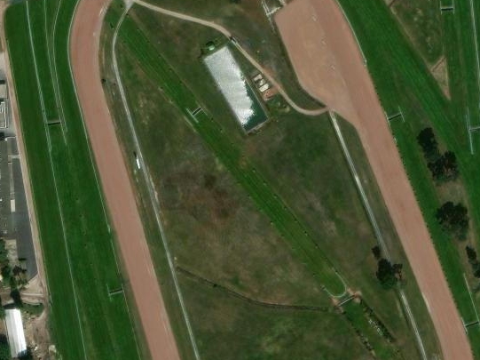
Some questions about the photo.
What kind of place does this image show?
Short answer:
sports ground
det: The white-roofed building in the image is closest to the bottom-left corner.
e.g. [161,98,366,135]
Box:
[5,308,26,356]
